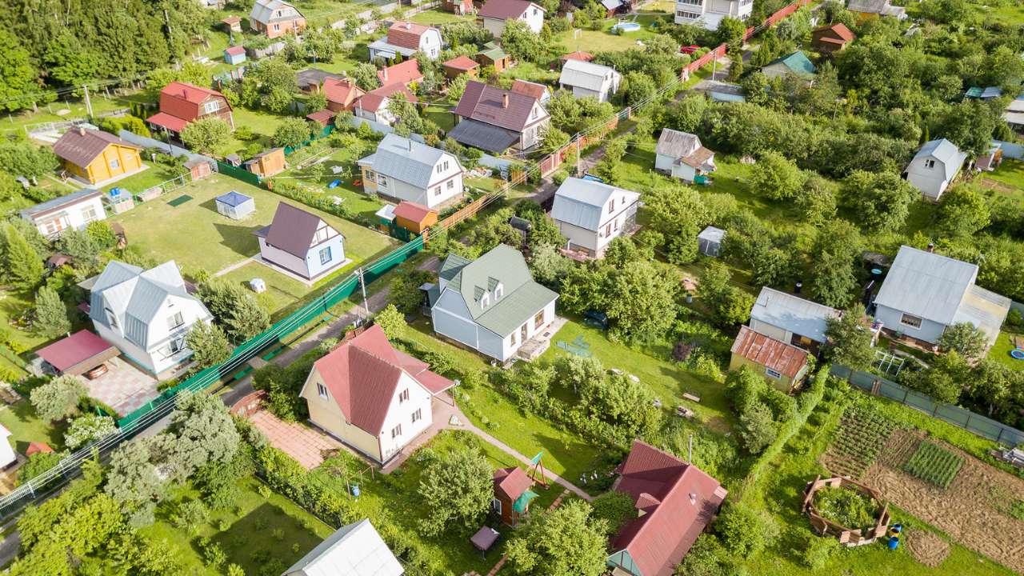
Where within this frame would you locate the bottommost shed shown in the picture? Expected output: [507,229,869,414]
[280,518,404,576]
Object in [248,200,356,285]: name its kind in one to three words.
house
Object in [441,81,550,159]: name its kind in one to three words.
house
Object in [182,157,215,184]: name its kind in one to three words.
shed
